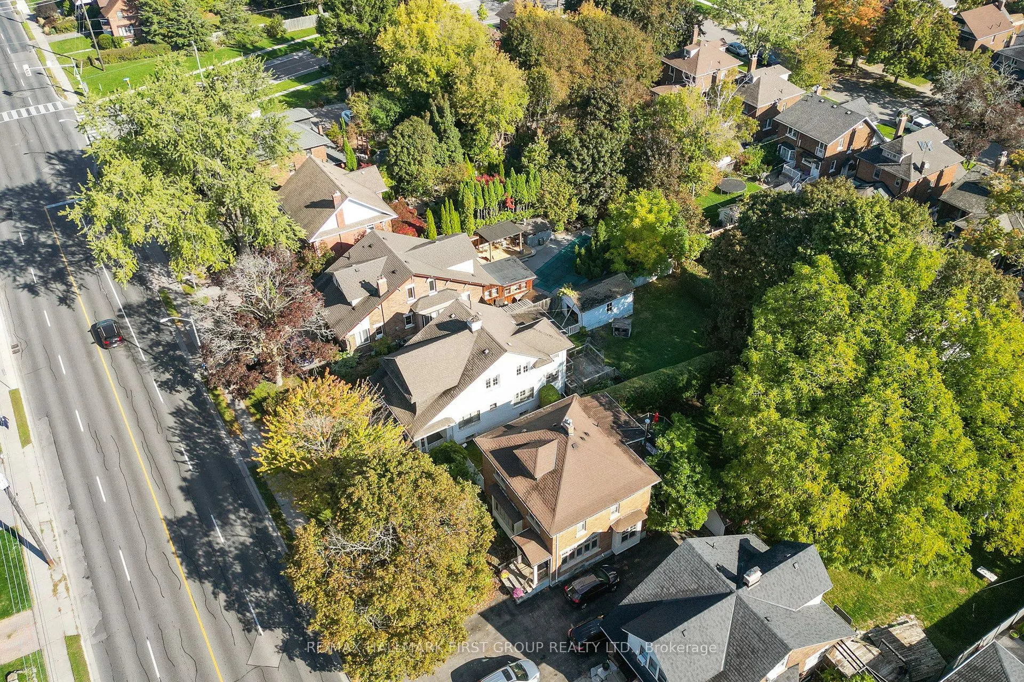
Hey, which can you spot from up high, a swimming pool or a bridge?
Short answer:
swimming pool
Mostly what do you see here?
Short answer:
trees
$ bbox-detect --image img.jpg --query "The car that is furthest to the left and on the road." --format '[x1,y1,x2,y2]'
[93,318,124,350]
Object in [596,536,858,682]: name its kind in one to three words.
house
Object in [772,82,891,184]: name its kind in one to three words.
house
